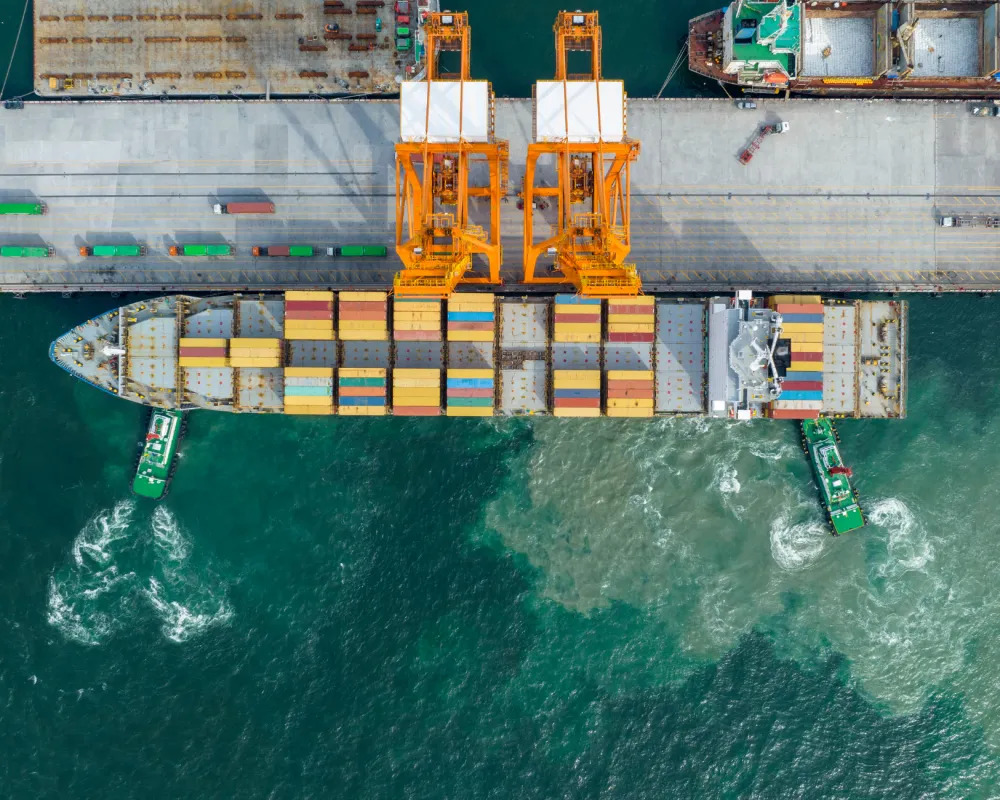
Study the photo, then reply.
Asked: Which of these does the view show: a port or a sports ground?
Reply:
port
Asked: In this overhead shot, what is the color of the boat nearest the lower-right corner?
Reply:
green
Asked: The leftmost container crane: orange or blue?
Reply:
orange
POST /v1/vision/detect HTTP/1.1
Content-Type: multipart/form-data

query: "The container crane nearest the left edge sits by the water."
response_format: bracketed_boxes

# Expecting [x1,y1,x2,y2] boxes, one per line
[383,10,510,308]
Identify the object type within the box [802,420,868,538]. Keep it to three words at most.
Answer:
boat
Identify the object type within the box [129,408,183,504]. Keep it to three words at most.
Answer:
boat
